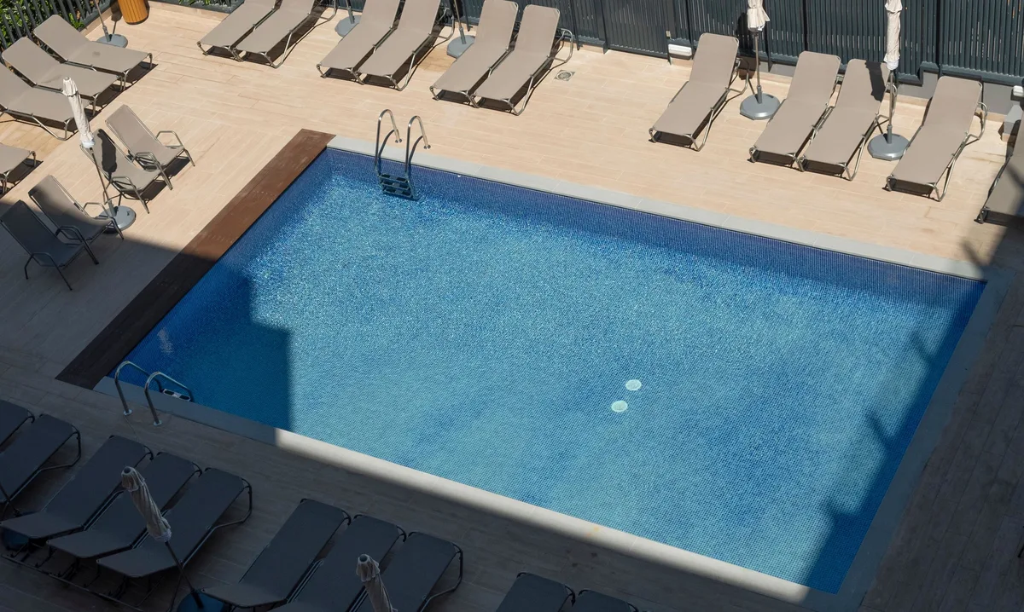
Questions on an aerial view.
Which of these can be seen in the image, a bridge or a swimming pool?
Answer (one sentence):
Visible in the photo is a swimming pool.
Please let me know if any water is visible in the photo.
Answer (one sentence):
Yes, there's water in this view.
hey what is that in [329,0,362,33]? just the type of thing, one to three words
umbrella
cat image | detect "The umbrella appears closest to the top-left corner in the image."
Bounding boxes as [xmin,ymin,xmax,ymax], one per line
[95,0,128,47]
